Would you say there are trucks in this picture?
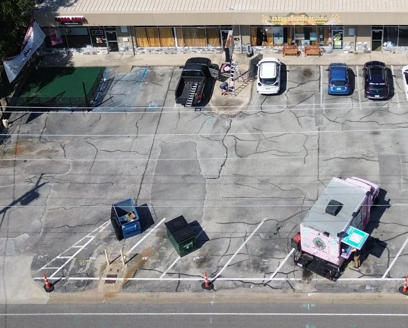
Yes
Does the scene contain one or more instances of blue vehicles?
Yes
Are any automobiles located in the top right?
Yes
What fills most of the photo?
paved ground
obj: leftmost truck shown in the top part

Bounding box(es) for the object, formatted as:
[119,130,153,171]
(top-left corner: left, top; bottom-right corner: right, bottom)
[173,54,212,106]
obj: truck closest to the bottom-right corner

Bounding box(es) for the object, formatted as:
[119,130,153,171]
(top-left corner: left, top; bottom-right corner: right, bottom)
[292,176,383,284]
